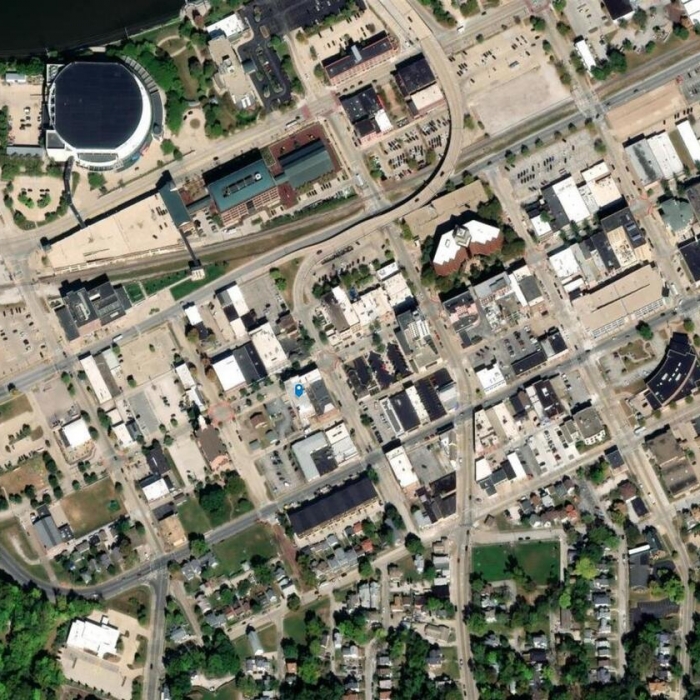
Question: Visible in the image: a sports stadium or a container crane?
sports stadium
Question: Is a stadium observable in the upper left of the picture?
Yes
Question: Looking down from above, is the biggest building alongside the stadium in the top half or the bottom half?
top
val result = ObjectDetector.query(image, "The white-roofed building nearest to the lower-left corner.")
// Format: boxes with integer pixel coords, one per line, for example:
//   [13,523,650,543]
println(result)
[66,620,122,662]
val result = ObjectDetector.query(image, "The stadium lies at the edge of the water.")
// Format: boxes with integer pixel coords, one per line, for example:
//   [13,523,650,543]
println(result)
[46,53,164,176]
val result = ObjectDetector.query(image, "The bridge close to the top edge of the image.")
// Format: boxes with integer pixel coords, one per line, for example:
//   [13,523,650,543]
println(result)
[294,0,466,262]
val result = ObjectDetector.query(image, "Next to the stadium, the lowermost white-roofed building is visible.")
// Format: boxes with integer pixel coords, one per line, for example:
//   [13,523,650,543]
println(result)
[50,193,181,275]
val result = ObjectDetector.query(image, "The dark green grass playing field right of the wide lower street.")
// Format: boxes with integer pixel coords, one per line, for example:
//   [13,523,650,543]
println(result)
[472,541,561,582]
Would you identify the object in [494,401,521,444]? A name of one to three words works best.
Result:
building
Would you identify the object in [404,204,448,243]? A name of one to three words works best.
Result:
building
